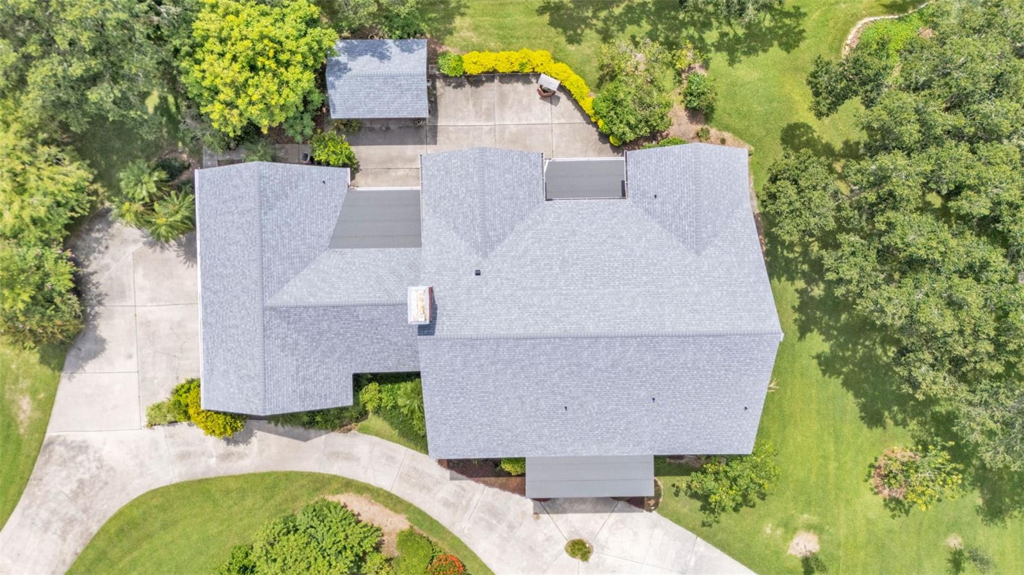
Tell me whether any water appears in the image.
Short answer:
No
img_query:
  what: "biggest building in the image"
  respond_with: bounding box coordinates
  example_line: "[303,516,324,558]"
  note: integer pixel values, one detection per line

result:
[195,142,783,499]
